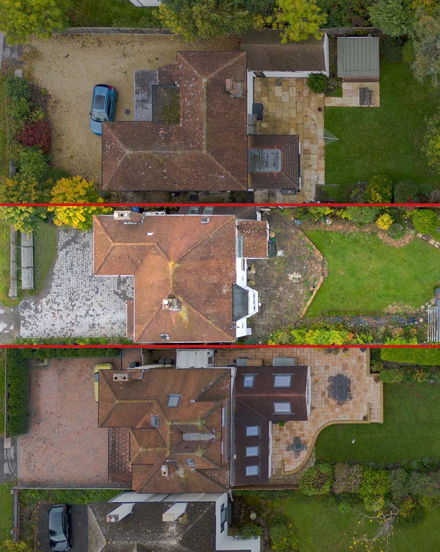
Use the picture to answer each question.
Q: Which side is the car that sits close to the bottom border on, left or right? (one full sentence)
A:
The car that sits close to the bottom border sits on the left side.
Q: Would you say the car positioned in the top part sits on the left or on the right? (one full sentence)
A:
The car positioned in the top part sits on the left side.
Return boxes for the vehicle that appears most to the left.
[45,503,73,552]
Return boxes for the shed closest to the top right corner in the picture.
[338,37,380,82]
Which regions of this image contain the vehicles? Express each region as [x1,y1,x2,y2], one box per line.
[90,365,113,412]
[45,503,73,552]
[87,83,118,136]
